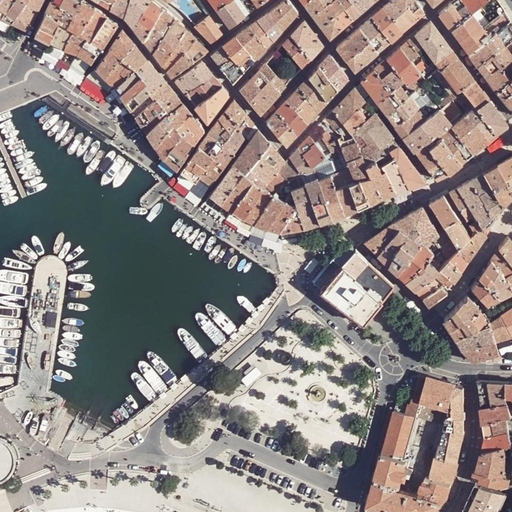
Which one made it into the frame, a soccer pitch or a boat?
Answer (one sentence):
It is a boat that can be seen here.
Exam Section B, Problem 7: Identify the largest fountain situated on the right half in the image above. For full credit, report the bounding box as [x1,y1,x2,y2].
[306,382,328,402]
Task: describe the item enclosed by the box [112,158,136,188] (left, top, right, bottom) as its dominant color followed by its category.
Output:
white boat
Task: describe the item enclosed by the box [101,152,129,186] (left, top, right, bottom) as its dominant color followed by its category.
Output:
white boat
